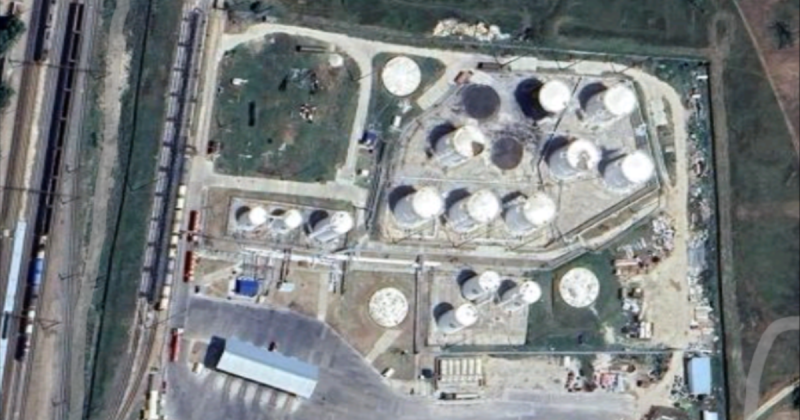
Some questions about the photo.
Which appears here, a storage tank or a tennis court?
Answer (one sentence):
The one in the frame is a storage tank.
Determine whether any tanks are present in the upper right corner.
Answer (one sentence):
Yes, a tank can be seen in the upper right corner.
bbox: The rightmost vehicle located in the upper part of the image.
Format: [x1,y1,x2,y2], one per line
[455,70,473,86]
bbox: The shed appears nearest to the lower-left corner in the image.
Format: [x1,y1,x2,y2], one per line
[237,278,259,297]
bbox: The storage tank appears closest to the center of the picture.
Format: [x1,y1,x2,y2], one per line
[393,187,444,233]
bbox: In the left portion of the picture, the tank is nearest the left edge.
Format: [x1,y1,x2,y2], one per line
[237,206,268,237]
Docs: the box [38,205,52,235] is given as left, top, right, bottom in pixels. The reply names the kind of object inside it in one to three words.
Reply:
rail car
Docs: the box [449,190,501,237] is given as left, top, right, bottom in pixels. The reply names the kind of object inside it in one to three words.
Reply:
storage tank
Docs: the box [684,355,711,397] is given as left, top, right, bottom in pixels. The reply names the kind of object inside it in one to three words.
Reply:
shed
